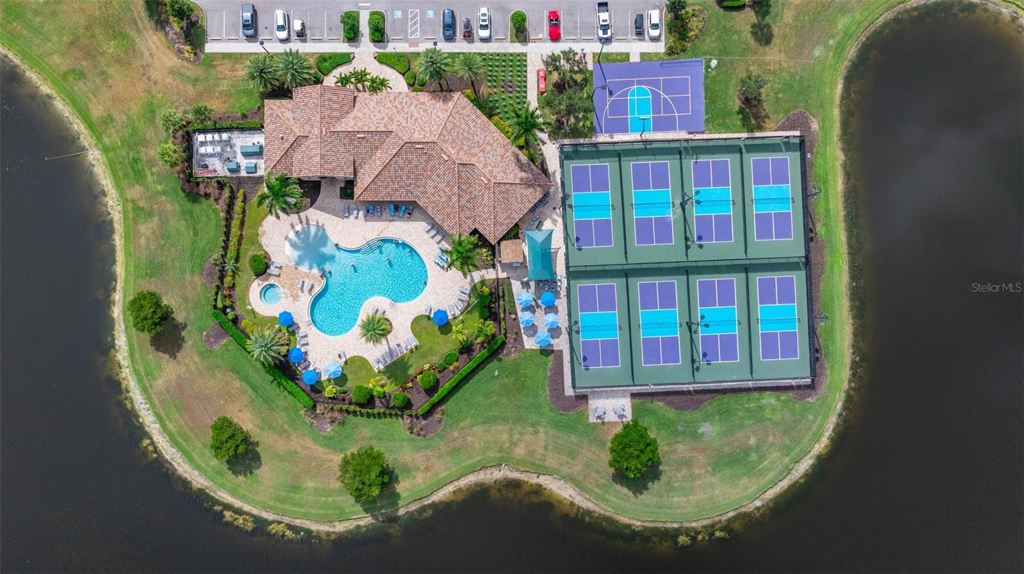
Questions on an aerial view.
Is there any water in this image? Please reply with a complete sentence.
Yes, some water is visible.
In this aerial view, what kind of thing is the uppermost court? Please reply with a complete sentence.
The uppermost court in the image is a basketball court.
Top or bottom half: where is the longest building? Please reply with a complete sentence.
The longest building sits in the top half of the picture.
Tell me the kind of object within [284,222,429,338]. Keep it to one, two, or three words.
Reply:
swimming pool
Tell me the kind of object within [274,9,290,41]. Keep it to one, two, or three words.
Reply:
car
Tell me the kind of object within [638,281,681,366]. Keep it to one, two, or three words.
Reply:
sports court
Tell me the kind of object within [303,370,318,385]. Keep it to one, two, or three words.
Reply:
umbrella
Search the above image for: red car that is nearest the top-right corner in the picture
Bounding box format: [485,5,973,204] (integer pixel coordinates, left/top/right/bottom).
[547,11,561,40]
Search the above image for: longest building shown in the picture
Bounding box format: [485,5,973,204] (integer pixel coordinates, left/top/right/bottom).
[264,84,554,246]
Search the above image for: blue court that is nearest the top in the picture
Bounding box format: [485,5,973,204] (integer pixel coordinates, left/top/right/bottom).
[594,58,705,135]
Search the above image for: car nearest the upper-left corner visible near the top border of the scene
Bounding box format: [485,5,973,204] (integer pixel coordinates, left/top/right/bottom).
[241,5,257,38]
